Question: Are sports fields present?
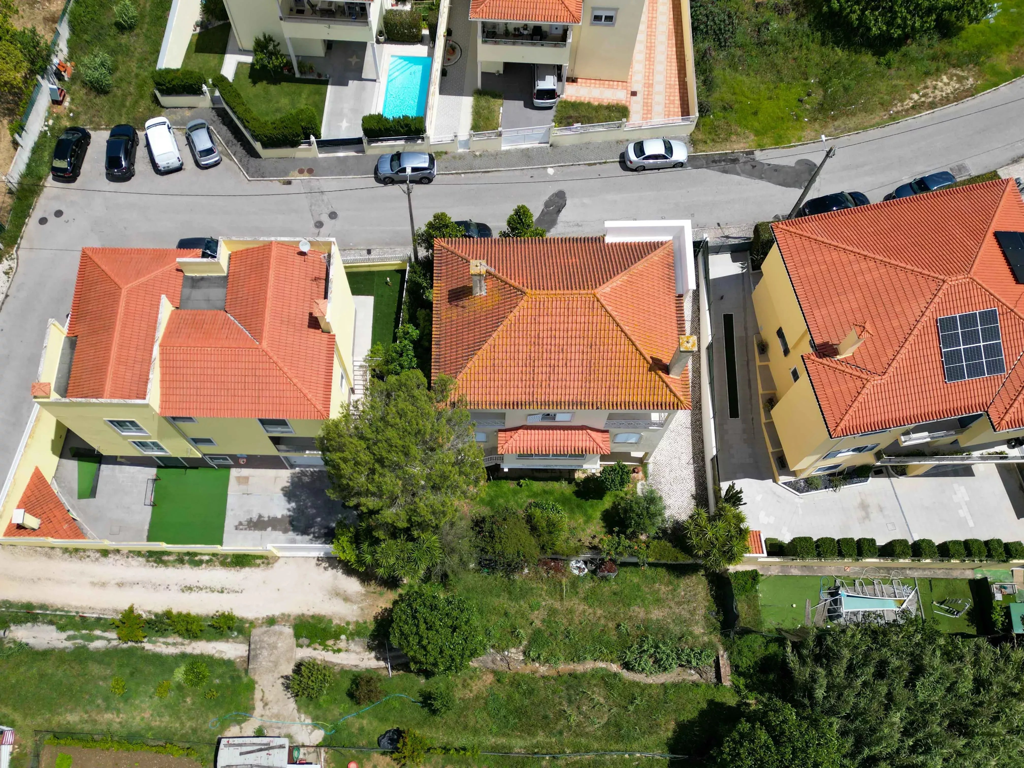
Yes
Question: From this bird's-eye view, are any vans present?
Yes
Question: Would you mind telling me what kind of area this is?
residential area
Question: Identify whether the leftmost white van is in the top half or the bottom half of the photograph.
top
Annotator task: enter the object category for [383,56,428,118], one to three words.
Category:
swimming pool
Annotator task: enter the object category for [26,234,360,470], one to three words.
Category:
house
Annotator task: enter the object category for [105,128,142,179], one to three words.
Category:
car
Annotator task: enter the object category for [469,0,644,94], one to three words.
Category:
house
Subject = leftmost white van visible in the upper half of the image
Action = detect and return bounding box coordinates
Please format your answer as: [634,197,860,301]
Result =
[141,121,184,174]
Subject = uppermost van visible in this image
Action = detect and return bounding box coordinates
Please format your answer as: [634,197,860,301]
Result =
[532,64,561,110]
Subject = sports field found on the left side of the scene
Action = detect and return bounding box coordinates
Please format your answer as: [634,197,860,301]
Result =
[147,467,230,545]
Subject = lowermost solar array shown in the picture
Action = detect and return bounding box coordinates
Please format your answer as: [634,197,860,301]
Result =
[940,308,1008,382]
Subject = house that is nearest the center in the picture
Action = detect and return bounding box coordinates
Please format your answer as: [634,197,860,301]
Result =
[430,221,701,475]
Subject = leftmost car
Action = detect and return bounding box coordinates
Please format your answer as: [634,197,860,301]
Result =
[54,129,96,183]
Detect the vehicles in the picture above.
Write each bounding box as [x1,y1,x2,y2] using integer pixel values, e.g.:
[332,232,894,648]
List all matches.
[172,233,226,250]
[375,152,437,185]
[185,121,225,169]
[141,121,184,174]
[803,191,865,217]
[532,64,561,110]
[623,140,689,172]
[886,172,950,201]
[105,128,142,179]
[54,129,96,183]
